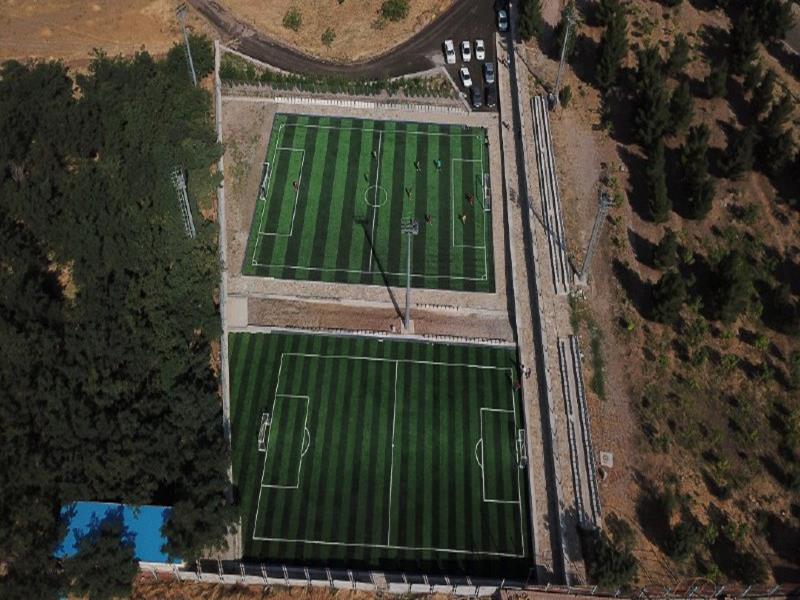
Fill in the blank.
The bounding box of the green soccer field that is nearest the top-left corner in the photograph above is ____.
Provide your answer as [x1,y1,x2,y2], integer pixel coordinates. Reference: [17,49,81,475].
[242,113,495,292]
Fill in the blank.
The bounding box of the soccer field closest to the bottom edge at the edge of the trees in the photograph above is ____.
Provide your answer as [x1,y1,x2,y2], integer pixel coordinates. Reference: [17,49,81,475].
[228,334,534,582]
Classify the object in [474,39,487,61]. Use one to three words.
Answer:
vehicle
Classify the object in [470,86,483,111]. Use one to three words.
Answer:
vehicle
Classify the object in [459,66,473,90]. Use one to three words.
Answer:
car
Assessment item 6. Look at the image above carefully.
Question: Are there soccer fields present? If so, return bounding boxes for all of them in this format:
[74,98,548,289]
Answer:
[228,334,534,582]
[242,113,495,292]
